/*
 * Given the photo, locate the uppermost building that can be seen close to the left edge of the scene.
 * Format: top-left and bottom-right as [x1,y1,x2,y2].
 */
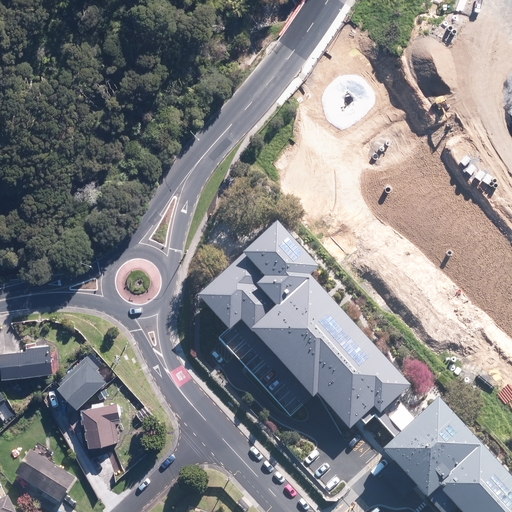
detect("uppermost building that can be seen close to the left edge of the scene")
[0,344,58,380]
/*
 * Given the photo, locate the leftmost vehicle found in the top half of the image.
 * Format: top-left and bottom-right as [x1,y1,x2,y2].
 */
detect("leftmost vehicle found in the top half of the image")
[436,94,448,118]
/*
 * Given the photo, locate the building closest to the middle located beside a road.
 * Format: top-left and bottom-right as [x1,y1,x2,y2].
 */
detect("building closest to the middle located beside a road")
[199,220,412,428]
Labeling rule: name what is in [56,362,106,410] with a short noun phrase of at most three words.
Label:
house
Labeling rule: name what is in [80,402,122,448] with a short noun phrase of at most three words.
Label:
house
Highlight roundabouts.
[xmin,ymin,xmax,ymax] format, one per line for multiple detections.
[116,258,162,305]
